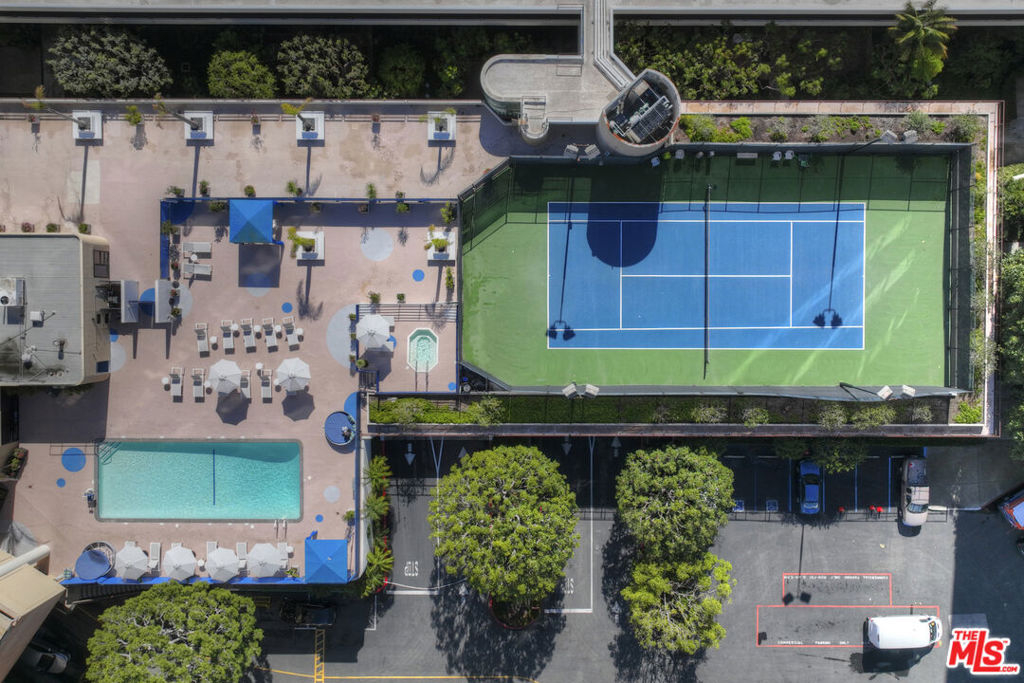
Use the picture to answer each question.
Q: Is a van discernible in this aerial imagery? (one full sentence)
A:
Yes, a van appears in the view.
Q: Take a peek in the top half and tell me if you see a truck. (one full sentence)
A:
No, the scene shows no truck in the top half.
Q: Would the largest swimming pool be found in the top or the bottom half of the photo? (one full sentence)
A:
It is in the bottom half that the largest swimming pool appears.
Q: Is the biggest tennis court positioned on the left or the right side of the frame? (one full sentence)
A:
The biggest tennis court appears in the right half of the scene.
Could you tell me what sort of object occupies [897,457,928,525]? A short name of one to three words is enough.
truck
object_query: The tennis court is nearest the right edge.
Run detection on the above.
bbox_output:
[461,153,951,386]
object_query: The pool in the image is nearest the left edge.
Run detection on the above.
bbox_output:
[85,435,310,529]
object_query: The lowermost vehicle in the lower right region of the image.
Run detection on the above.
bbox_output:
[866,613,942,646]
